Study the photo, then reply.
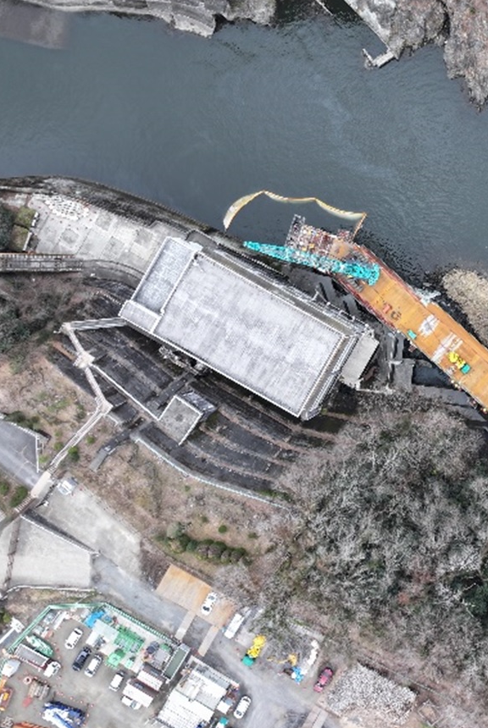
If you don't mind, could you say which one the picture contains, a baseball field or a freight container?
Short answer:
freight container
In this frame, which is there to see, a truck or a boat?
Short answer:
truck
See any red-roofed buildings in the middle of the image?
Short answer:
No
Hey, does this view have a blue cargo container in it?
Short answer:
No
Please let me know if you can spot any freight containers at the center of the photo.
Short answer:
No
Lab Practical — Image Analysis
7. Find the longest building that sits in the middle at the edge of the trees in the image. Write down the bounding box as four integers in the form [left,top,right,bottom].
[118,230,400,423]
